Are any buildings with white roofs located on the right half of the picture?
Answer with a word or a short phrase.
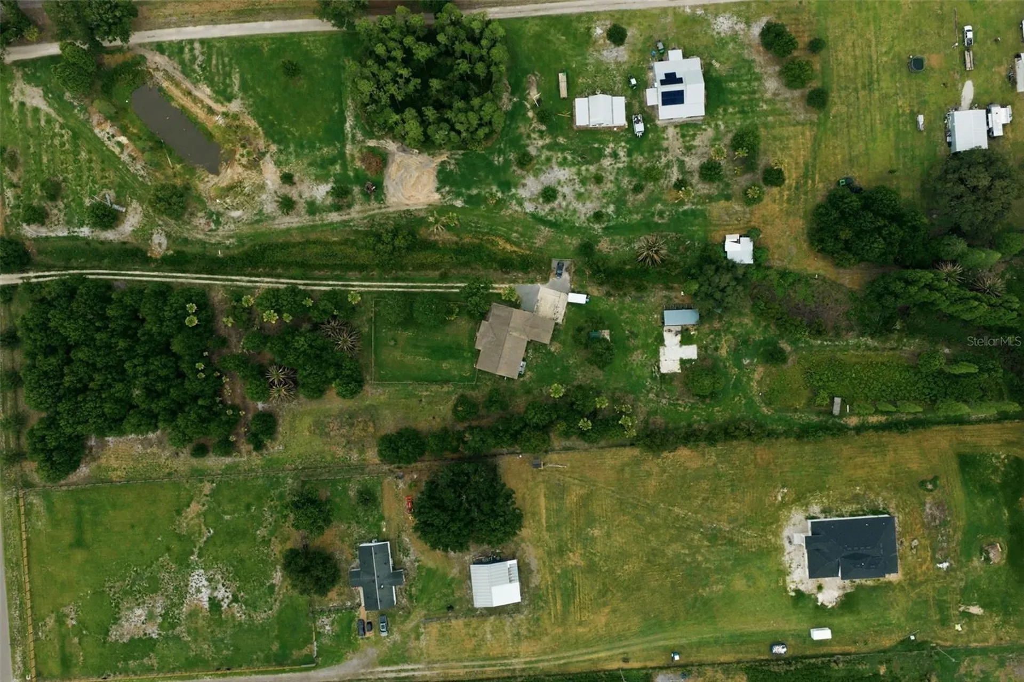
Yes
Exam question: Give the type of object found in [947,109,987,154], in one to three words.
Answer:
barn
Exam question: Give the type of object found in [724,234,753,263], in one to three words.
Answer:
shed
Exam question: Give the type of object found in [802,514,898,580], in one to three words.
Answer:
house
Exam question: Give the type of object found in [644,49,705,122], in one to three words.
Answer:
house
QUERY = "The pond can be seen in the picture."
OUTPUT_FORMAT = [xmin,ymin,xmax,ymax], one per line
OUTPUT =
[135,85,222,176]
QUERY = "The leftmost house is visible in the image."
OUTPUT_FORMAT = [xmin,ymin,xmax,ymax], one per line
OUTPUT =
[349,541,405,611]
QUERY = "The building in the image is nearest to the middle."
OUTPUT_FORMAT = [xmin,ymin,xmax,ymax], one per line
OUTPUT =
[476,303,555,379]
